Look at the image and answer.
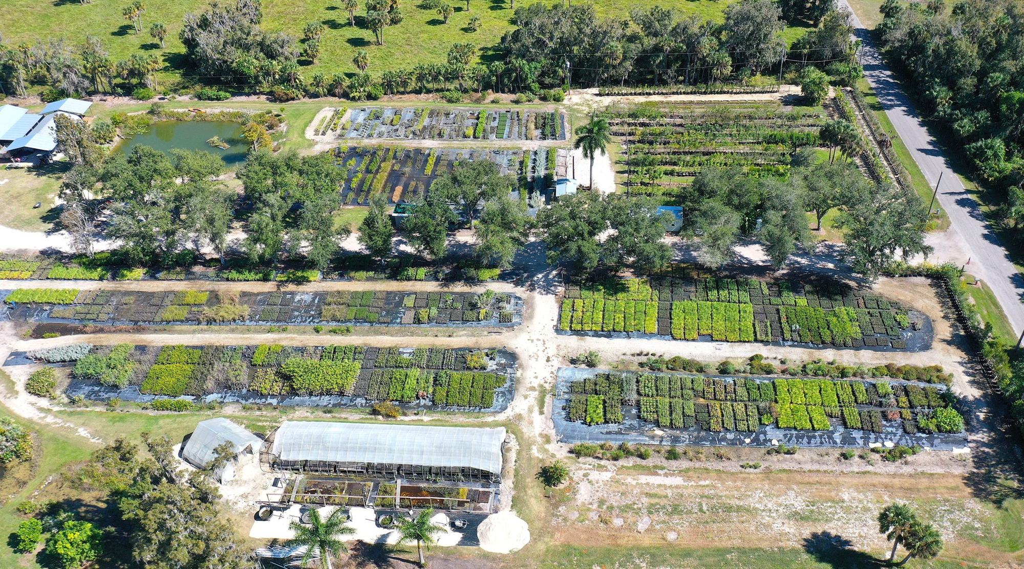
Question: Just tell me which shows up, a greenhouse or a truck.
greenhouse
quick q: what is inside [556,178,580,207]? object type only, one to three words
shed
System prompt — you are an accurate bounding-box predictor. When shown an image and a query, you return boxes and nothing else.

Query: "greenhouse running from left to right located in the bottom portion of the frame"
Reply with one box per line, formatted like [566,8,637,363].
[258,416,505,482]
